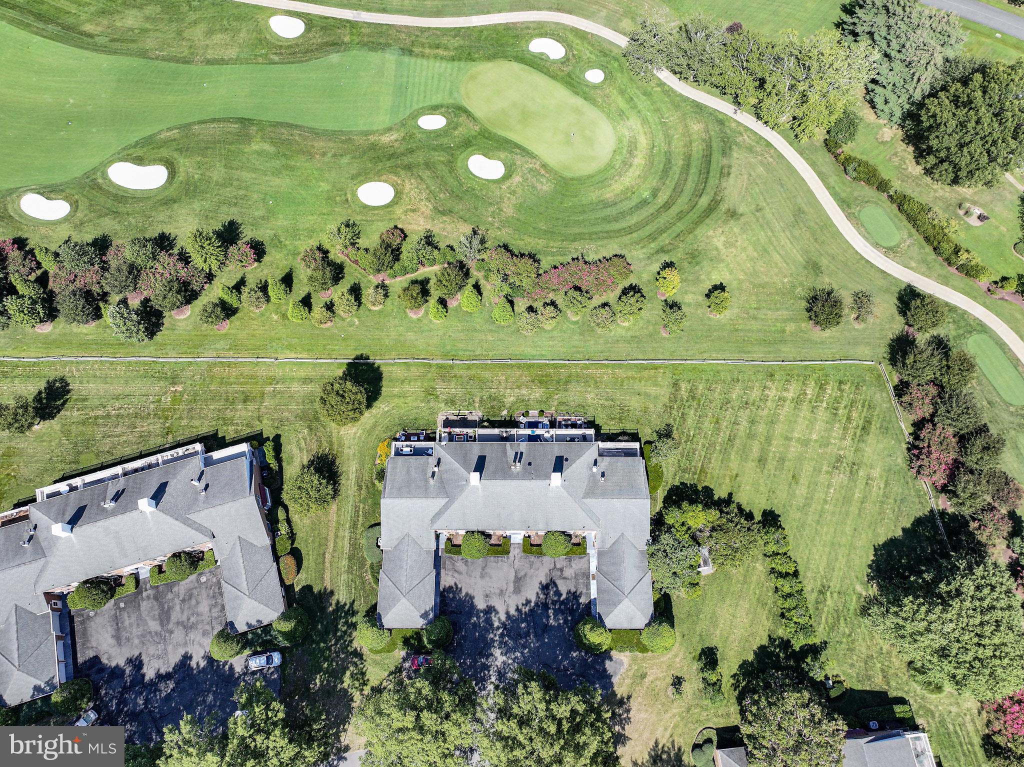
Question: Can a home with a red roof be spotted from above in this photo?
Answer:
No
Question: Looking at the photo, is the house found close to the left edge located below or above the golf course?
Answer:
below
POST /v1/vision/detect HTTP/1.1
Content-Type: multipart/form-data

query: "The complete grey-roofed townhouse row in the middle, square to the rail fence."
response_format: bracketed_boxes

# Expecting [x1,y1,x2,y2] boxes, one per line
[377,428,655,628]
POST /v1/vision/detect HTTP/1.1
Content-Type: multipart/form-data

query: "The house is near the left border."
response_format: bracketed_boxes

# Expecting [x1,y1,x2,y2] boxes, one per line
[0,442,289,708]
